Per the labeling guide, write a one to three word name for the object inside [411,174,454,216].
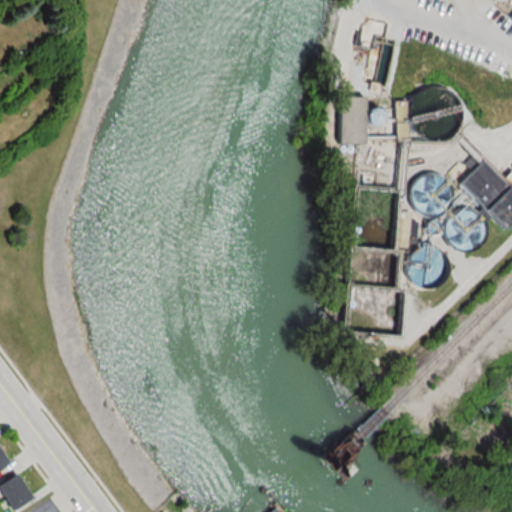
storage tank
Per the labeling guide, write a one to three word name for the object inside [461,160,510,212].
building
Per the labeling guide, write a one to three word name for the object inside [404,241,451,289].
storage tank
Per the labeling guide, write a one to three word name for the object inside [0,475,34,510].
house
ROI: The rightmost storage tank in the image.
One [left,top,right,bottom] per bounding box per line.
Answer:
[444,209,487,252]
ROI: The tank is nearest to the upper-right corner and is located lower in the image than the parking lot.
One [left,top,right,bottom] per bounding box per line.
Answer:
[408,84,464,141]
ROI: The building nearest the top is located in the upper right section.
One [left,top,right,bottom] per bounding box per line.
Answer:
[365,48,380,80]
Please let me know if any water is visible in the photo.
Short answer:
Yes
